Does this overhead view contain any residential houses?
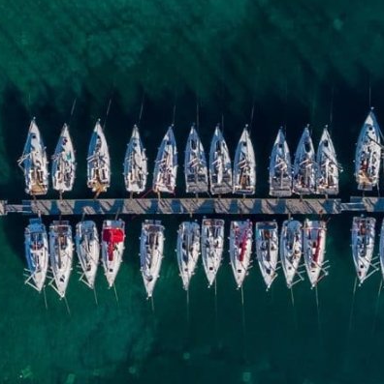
No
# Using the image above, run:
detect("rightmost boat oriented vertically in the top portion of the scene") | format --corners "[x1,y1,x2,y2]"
[354,98,384,199]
